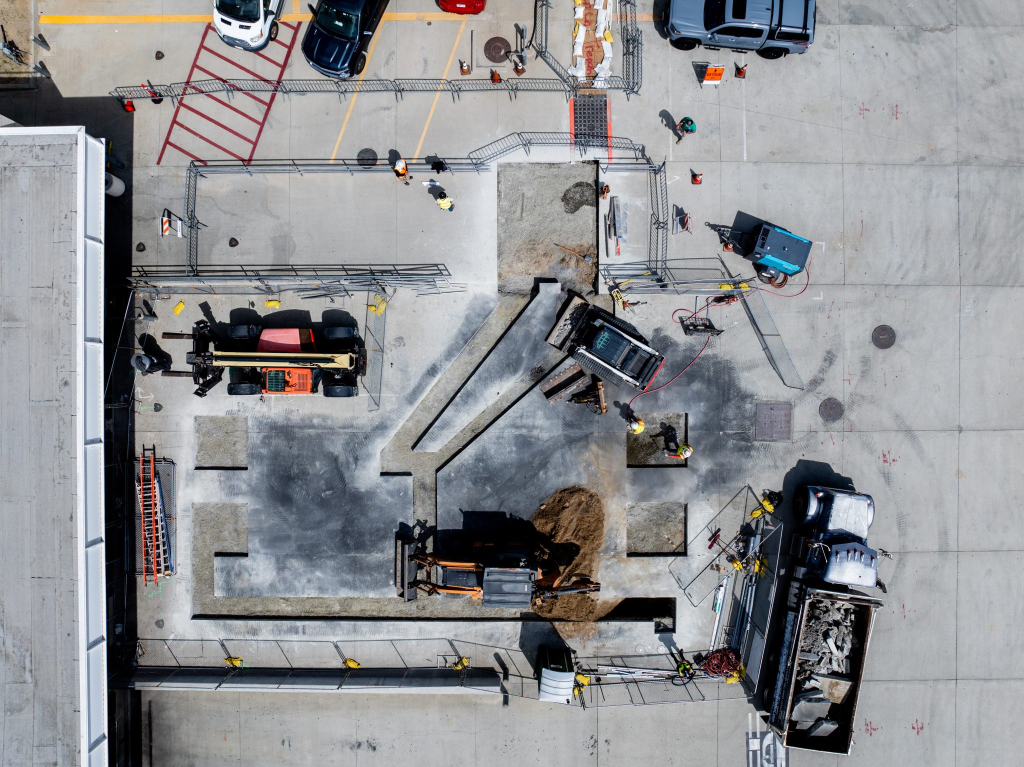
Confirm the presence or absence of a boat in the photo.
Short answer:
No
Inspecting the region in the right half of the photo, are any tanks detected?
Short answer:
No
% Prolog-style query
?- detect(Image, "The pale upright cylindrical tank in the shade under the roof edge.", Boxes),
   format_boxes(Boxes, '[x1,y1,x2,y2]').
[107,166,136,198]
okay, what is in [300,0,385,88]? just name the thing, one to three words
truck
